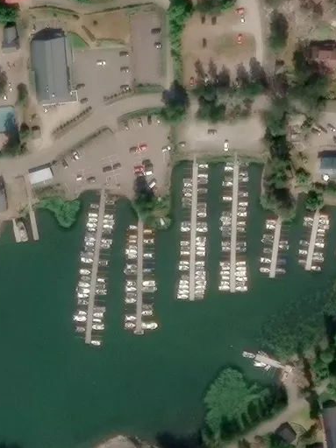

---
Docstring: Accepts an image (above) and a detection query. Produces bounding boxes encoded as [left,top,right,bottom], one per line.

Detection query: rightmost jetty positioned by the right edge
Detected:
[299,208,329,270]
